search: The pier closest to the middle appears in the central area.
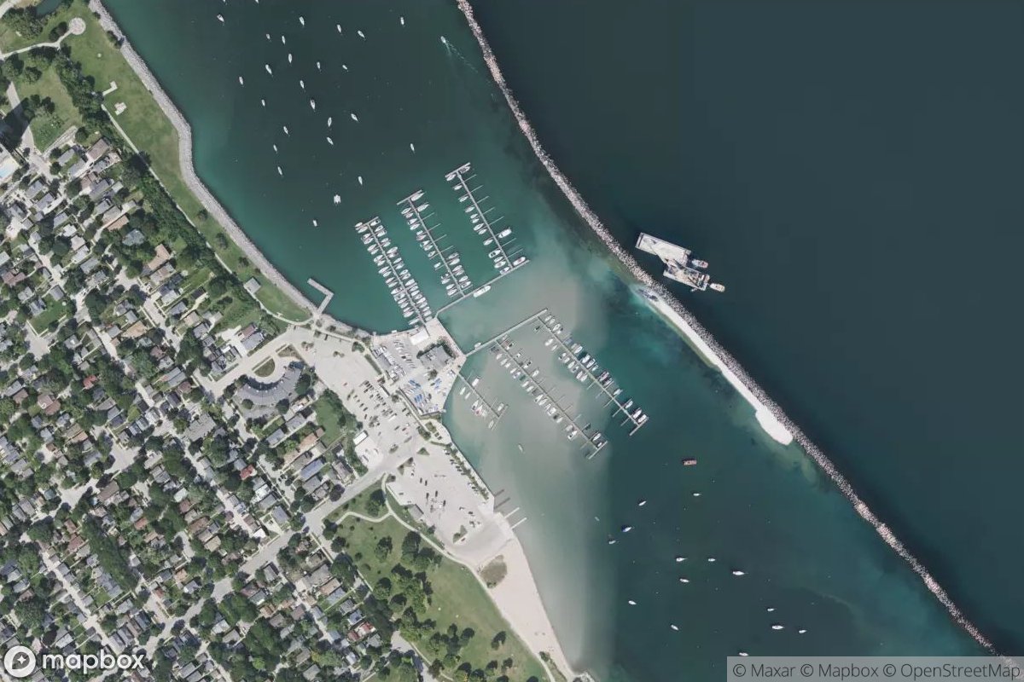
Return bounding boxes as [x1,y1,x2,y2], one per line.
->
[465,307,548,358]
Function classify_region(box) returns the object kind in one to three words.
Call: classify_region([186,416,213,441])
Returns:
building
